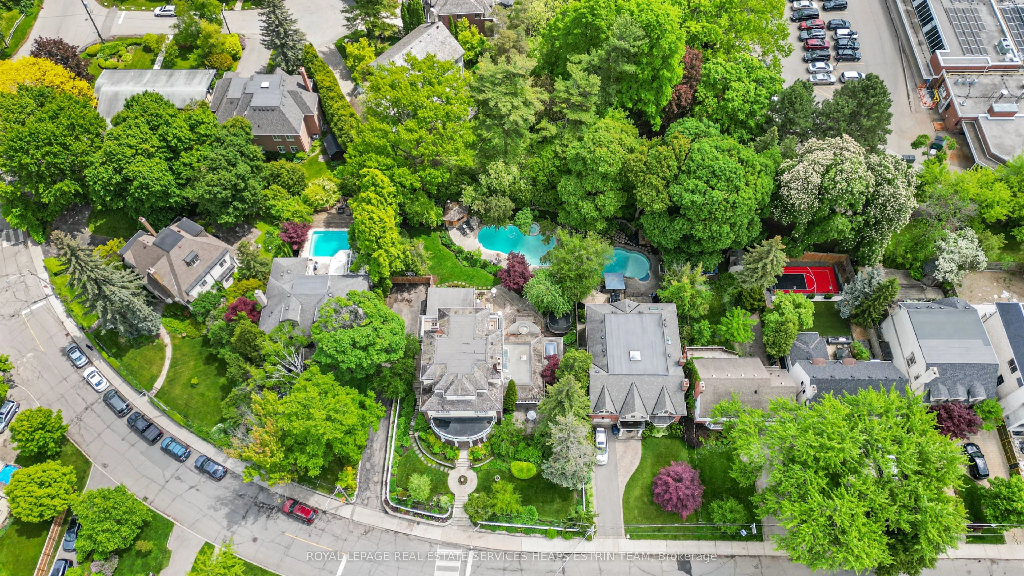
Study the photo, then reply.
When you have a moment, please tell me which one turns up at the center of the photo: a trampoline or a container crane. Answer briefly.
trampoline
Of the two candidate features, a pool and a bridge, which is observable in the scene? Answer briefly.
pool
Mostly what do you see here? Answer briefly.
trees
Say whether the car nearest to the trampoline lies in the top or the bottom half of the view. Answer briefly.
bottom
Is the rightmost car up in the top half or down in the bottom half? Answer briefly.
bottom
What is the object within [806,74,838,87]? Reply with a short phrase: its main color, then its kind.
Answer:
gray vehicle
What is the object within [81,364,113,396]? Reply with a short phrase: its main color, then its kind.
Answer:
white car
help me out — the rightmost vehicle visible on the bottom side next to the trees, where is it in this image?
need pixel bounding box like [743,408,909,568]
[961,441,992,481]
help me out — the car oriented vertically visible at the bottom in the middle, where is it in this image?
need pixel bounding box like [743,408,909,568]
[592,426,612,468]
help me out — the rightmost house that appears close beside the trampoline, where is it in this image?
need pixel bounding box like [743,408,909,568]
[585,299,692,439]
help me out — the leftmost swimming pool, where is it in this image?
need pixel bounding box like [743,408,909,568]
[306,227,365,260]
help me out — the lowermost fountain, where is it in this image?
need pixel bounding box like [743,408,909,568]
[455,472,471,488]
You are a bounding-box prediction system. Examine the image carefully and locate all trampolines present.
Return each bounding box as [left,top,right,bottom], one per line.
[548,303,574,332]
